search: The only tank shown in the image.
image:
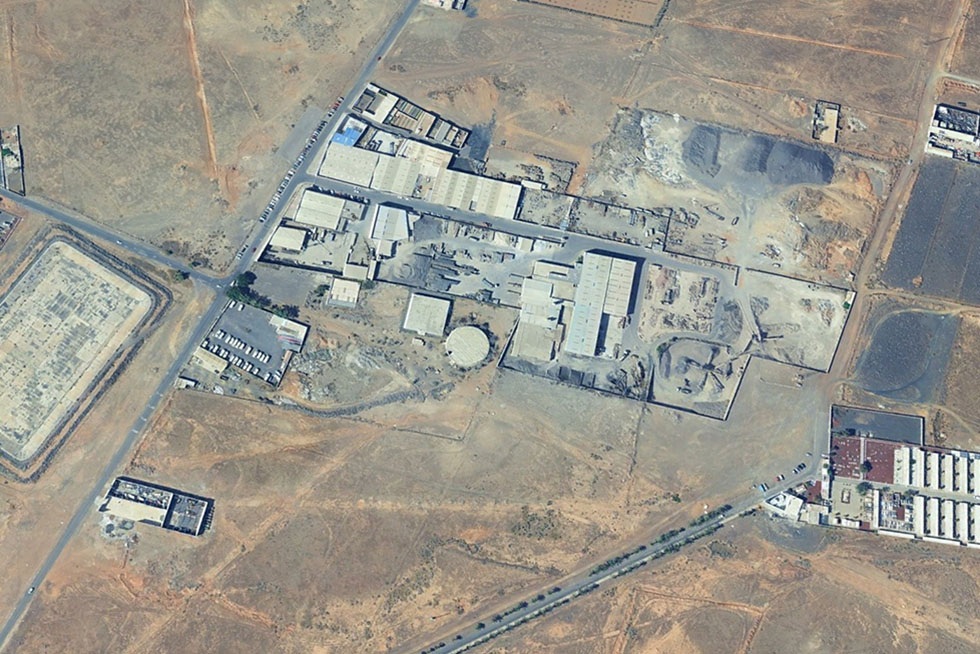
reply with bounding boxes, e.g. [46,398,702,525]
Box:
[441,325,489,368]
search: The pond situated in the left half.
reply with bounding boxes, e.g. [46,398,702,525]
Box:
[0,225,166,478]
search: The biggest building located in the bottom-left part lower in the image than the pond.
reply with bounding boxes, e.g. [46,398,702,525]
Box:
[100,498,167,525]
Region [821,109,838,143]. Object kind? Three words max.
house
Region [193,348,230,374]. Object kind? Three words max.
shed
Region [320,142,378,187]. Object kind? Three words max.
building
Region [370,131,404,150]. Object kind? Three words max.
house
